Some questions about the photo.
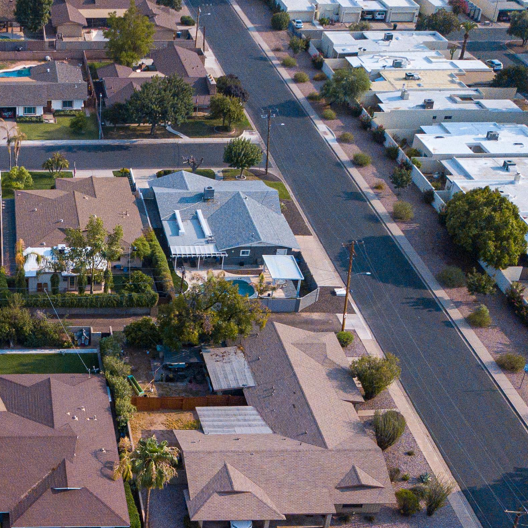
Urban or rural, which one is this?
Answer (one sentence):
The area is urban.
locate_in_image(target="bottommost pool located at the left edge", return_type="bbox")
[0,66,33,78]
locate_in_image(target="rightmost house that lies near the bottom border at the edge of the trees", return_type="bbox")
[170,319,399,528]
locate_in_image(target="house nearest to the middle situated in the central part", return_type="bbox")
[145,169,304,274]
